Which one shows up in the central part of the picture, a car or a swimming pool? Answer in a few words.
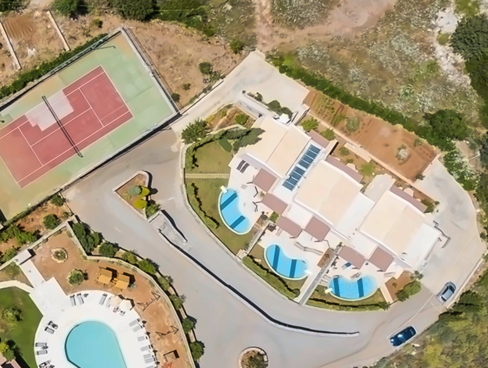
swimming pool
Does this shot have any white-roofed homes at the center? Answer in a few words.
Yes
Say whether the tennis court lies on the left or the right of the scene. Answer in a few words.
left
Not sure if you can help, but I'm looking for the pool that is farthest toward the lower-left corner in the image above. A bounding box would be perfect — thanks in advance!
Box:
[63,318,129,368]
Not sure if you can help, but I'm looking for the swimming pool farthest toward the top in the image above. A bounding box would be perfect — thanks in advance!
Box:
[216,187,252,236]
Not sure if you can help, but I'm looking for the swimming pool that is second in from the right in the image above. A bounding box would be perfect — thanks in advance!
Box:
[264,243,309,281]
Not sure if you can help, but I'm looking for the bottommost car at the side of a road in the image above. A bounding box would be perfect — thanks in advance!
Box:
[392,326,419,346]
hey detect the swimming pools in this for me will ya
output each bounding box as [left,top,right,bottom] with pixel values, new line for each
[264,243,309,281]
[63,318,129,368]
[216,187,252,236]
[328,274,378,301]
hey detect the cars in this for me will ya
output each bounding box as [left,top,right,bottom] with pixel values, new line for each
[438,280,459,302]
[392,326,419,346]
